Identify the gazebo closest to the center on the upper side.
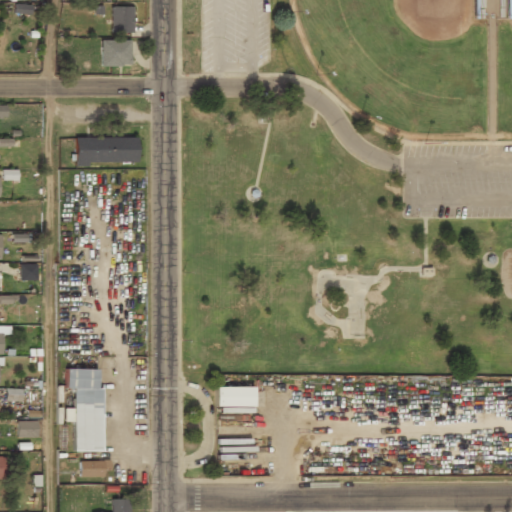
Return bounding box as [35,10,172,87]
[246,186,262,202]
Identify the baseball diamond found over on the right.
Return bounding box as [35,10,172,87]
[394,0,478,41]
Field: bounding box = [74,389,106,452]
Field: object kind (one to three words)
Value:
building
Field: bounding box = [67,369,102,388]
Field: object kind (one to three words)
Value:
building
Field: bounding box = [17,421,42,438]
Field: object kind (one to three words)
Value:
house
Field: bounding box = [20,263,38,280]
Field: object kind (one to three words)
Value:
house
